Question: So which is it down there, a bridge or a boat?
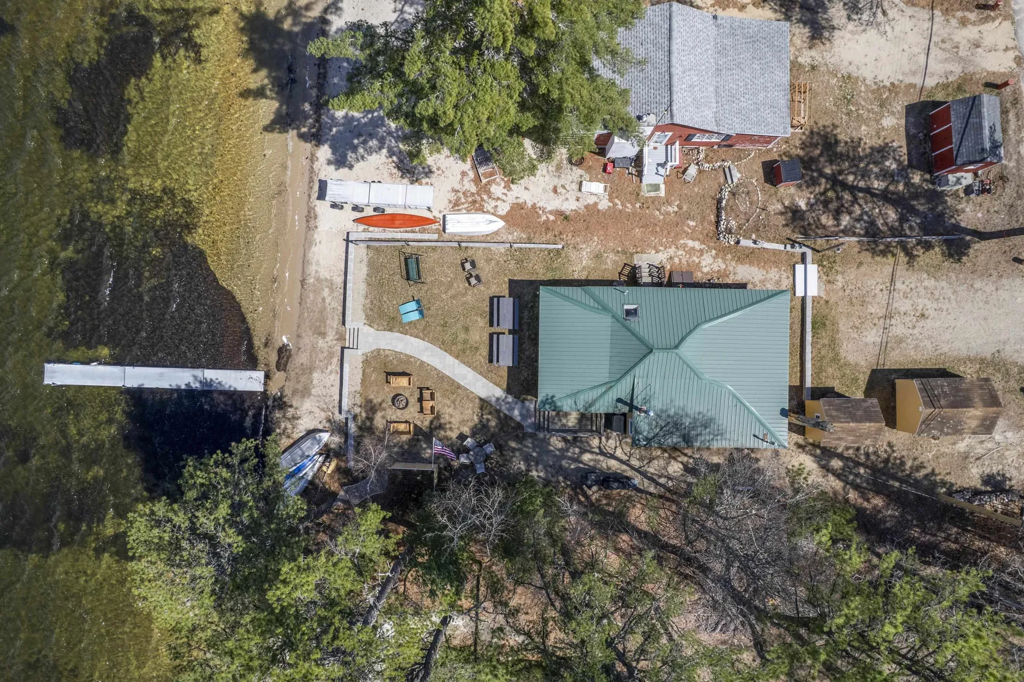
boat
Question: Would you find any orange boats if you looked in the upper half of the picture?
Yes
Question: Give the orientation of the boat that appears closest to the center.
horizontally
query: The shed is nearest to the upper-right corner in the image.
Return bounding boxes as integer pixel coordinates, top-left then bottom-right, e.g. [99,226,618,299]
[929,94,1004,173]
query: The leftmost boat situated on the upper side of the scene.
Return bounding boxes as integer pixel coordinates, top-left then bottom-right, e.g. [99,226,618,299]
[354,213,436,230]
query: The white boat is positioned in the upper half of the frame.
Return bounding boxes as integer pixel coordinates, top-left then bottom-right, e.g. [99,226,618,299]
[443,212,505,235]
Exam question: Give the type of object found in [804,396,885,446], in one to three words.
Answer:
shed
